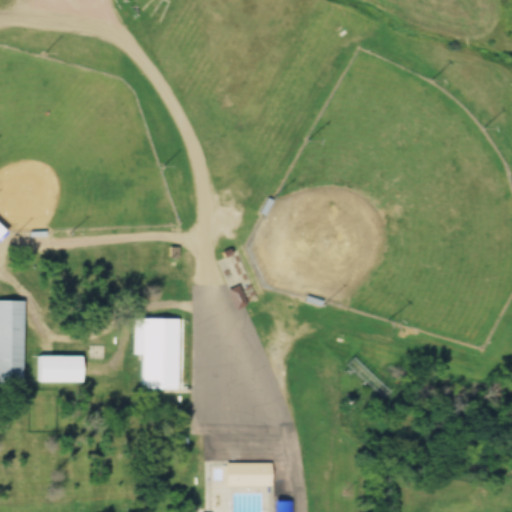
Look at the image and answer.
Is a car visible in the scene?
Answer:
No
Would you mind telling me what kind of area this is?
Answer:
sports ground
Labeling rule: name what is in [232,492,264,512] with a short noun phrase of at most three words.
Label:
swimming pool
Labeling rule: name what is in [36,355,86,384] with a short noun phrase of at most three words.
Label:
shed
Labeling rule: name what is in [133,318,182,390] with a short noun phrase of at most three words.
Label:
building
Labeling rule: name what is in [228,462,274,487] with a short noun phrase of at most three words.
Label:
building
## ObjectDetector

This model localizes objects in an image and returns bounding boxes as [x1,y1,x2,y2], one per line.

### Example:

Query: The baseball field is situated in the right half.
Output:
[246,48,512,349]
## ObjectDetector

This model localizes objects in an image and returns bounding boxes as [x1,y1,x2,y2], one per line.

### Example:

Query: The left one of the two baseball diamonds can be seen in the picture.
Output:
[0,44,181,231]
